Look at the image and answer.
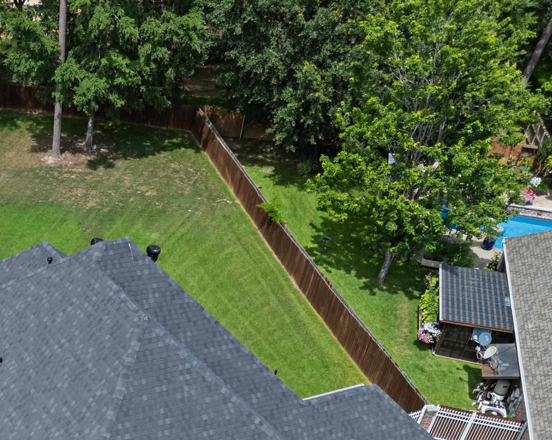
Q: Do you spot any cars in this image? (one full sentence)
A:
No, I can't see a single car in this photo.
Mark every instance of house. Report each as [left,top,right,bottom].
[501,224,552,440]
[0,235,440,440]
